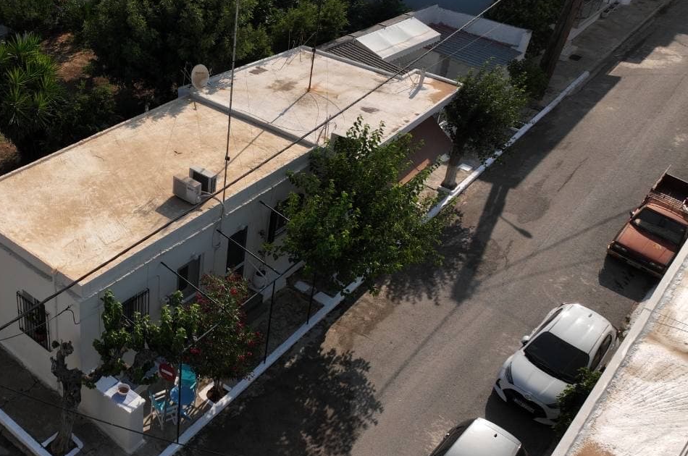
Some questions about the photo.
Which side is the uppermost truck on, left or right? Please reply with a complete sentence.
It is on the right.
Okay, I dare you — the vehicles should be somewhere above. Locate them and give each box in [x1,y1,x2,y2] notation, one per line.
[420,415,533,456]
[493,304,621,430]
[604,184,688,281]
